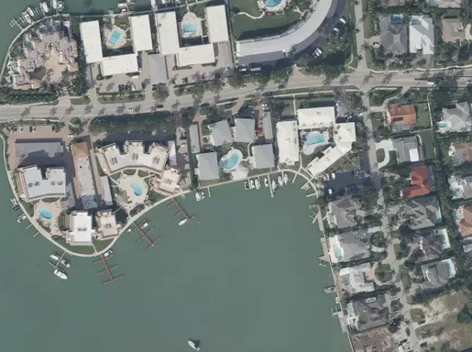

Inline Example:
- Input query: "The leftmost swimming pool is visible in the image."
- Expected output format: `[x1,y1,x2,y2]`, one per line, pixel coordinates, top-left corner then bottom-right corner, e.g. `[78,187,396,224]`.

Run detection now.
[34,201,61,238]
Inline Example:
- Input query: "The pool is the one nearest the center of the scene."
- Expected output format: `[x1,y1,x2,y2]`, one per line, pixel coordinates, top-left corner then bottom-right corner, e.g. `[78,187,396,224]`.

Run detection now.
[222,148,244,173]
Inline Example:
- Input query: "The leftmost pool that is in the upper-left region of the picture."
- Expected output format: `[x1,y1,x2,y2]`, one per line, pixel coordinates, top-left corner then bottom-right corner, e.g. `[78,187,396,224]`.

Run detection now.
[104,26,127,48]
